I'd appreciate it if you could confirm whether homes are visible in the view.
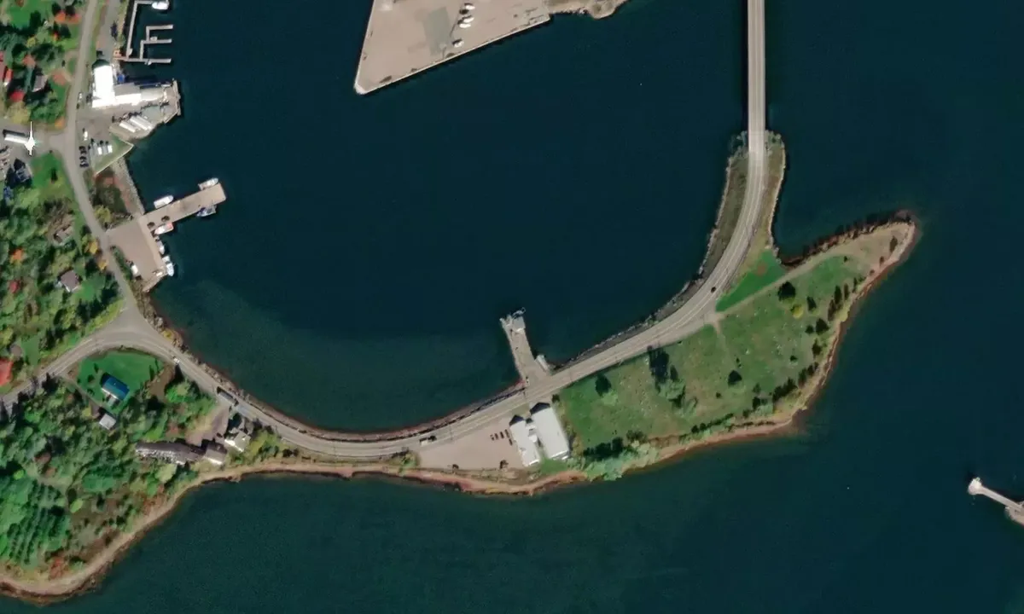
Yes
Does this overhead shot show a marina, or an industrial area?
marina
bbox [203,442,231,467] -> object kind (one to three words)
house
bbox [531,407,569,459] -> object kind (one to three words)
building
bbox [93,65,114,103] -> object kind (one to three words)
shed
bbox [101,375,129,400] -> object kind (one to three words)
house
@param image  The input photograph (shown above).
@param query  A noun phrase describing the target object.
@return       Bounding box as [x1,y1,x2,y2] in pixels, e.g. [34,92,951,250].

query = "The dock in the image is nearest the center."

[500,317,556,389]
